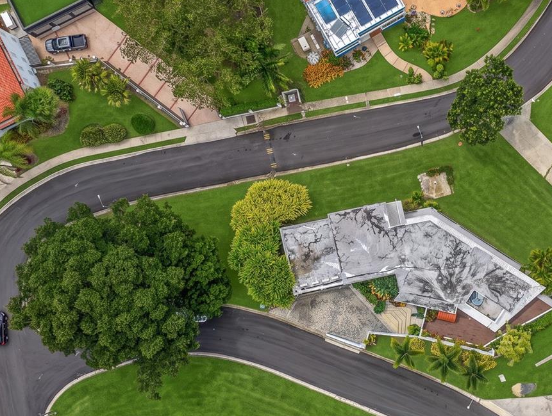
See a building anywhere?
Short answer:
Yes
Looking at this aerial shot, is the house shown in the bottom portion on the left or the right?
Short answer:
right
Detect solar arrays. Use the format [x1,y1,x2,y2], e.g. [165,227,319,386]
[366,0,386,18]
[349,0,373,26]
[331,18,349,38]
[382,0,398,10]
[332,0,352,16]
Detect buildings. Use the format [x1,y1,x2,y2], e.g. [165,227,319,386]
[0,18,50,143]
[305,0,406,57]
[9,0,97,36]
[281,200,547,334]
